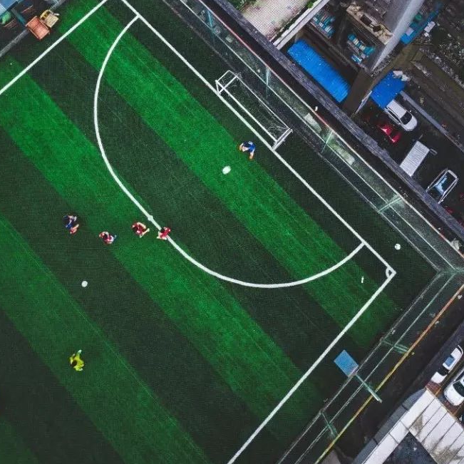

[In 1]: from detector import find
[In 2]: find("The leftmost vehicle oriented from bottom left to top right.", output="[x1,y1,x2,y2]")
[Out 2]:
[401,137,433,176]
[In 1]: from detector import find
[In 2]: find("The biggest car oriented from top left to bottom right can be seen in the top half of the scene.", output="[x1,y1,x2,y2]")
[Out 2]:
[384,102,417,134]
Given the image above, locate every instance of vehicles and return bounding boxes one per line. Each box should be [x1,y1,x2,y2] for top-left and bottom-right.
[444,366,464,406]
[384,102,417,134]
[373,122,399,146]
[426,169,458,200]
[429,343,464,384]
[401,137,433,176]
